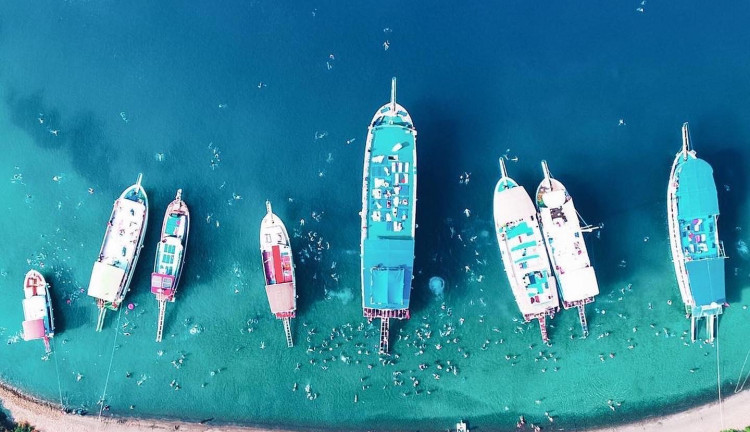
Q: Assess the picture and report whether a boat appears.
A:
Yes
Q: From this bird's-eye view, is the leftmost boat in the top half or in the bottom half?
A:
bottom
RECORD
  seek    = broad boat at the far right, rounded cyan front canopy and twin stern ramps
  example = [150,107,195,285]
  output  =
[662,122,731,343]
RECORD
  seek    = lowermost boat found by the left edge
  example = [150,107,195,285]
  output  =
[22,266,61,353]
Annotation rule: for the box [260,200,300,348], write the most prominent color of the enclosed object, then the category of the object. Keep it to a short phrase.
white boat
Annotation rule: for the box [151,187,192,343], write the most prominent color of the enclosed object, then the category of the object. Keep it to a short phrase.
white boat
